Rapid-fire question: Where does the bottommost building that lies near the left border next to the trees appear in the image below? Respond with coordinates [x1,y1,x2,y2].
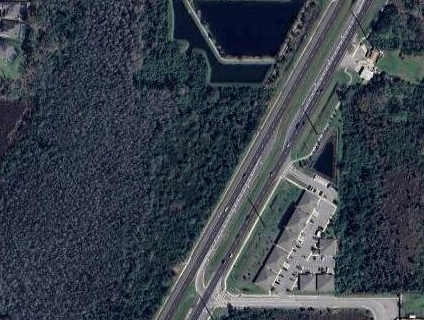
[0,42,22,64]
